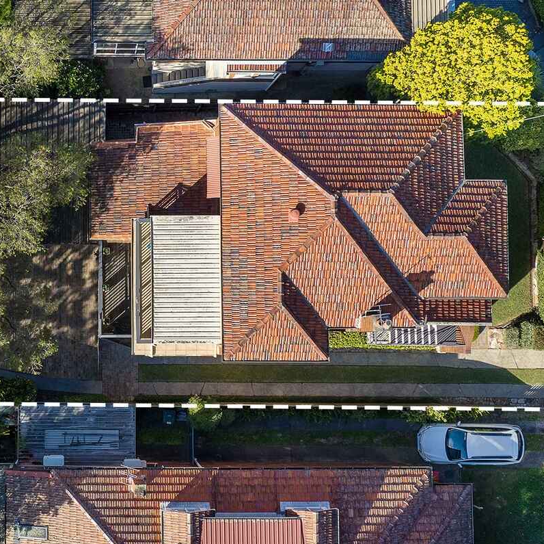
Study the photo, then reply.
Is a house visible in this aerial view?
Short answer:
Yes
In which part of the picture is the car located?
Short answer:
bottom right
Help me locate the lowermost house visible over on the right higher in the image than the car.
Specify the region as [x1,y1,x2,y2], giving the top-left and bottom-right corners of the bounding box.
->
[217,102,512,363]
